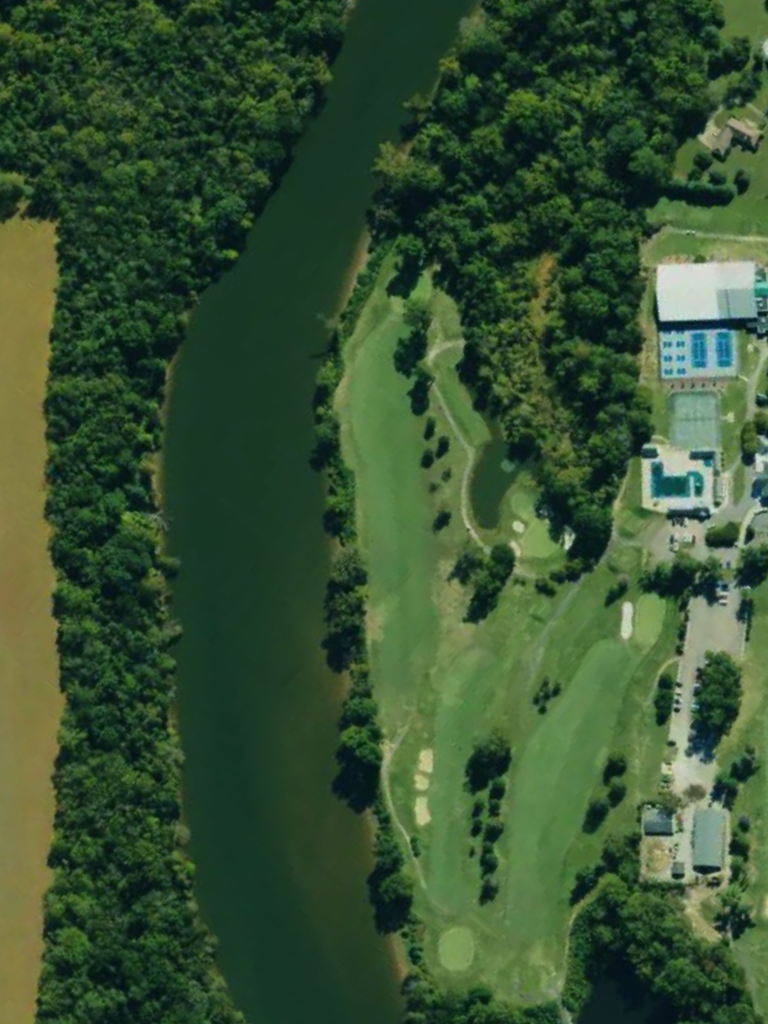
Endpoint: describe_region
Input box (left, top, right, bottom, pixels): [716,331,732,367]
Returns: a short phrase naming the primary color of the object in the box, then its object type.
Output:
blue tennis court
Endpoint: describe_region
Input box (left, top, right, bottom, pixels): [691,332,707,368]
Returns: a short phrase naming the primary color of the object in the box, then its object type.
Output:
blue tennis court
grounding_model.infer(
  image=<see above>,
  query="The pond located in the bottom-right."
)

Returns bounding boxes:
[572,958,671,1024]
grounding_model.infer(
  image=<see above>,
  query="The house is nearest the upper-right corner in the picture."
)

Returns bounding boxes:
[712,119,763,155]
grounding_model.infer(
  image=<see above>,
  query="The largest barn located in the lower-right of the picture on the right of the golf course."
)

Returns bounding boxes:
[694,810,727,866]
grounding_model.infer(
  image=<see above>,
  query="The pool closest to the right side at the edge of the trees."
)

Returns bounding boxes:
[642,446,715,516]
